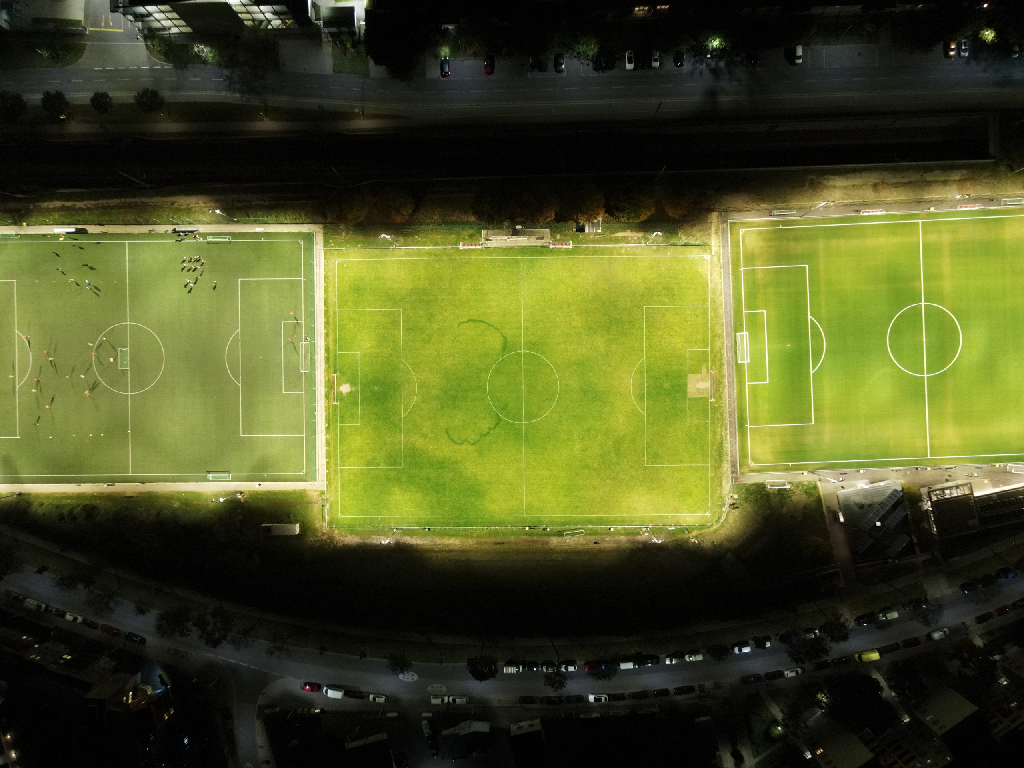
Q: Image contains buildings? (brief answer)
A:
Yes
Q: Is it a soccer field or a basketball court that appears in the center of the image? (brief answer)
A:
soccer field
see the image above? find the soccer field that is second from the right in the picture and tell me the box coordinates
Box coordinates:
[324,245,730,528]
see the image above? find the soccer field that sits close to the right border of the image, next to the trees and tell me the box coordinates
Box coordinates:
[730,207,1024,474]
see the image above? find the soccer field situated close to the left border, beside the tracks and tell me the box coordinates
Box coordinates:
[0,232,318,484]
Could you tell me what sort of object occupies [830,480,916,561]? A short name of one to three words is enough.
building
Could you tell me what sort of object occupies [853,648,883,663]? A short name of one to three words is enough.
vehicle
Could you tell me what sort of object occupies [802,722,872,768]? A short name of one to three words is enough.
building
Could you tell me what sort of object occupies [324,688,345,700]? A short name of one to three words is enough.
vehicle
